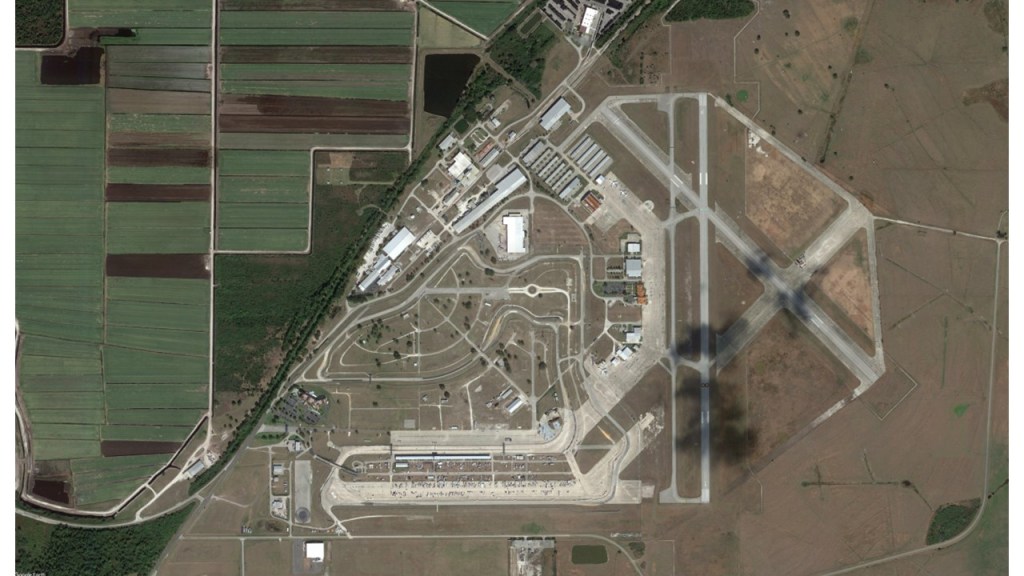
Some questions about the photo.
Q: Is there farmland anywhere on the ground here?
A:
Yes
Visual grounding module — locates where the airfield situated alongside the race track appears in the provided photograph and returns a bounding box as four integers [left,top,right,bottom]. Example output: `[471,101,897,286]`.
[519,91,885,503]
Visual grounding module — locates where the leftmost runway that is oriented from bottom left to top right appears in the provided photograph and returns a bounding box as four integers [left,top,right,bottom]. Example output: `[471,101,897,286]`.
[716,267,805,375]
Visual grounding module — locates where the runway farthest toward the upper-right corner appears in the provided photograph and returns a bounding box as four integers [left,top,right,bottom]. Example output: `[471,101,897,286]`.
[790,209,872,284]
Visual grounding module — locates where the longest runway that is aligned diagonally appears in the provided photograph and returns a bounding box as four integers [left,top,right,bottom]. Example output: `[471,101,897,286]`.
[599,102,879,381]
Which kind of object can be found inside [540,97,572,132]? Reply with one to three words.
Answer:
hangar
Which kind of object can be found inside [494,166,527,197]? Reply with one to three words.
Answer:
shed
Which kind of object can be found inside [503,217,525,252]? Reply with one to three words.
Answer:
building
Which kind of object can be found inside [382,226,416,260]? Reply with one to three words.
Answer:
building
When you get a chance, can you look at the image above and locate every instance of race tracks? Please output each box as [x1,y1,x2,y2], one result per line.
[299,244,654,504]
